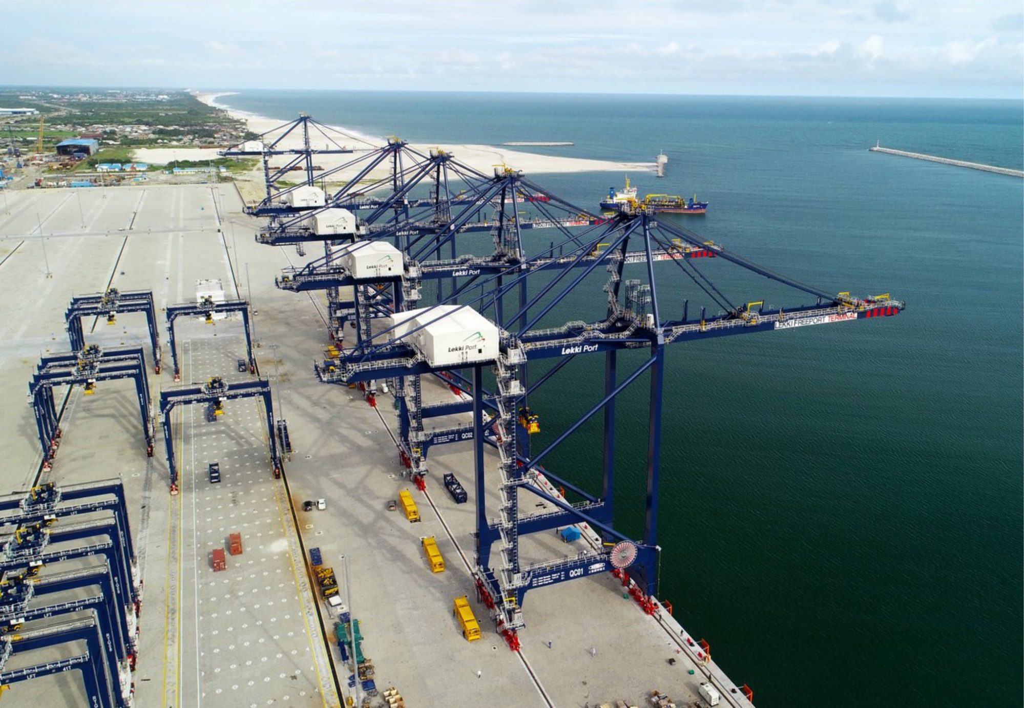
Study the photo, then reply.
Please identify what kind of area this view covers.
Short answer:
port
